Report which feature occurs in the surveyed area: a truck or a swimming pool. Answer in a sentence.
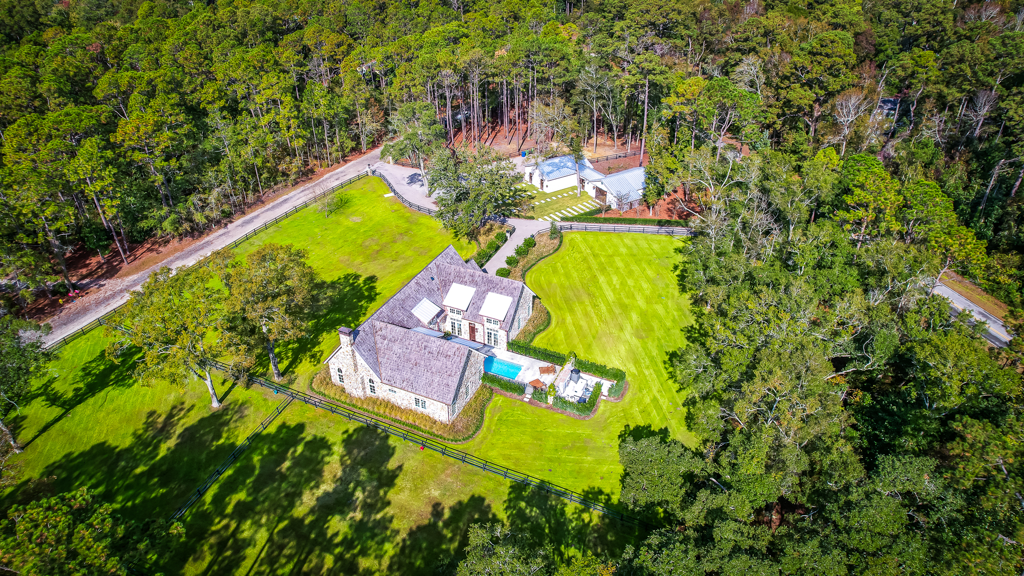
I can see a swimming pool in this picture.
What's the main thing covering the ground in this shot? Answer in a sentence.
Most of the picture is covered by trees.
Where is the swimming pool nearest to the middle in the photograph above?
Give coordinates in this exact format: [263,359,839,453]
[477,352,525,380]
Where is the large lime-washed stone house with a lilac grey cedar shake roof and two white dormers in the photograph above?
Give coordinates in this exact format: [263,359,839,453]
[321,245,537,421]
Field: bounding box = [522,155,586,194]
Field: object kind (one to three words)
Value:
building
